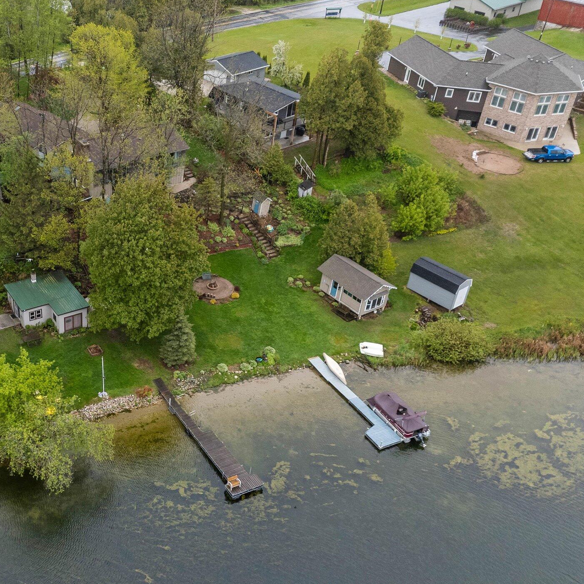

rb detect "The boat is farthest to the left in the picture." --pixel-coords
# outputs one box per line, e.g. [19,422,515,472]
[324,353,346,385]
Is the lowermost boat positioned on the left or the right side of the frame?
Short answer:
right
